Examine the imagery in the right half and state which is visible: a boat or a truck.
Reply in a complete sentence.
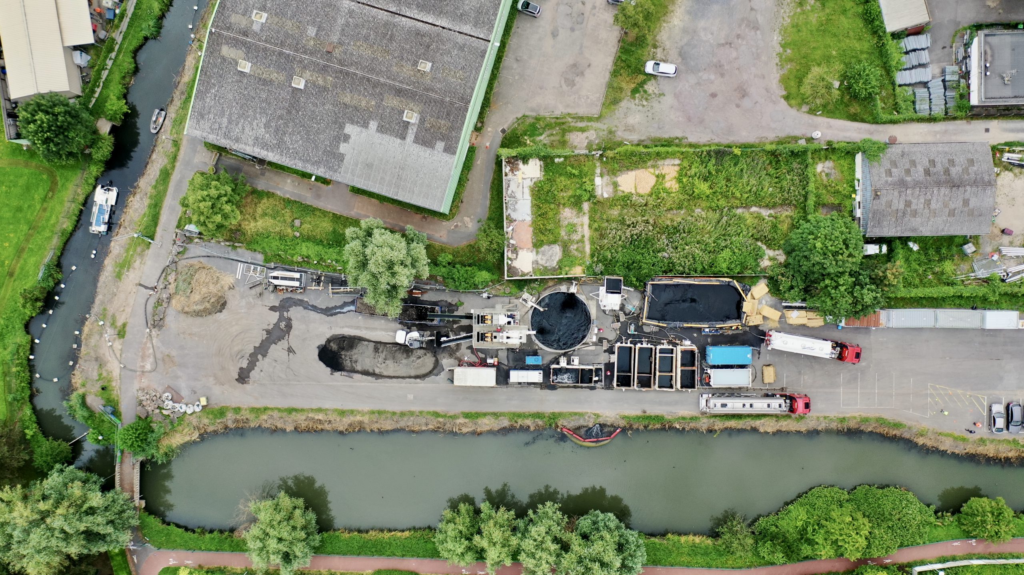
It is a truck that can be seen in the right half.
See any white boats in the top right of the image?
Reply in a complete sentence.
No, no white boat is visible in the top right of the image.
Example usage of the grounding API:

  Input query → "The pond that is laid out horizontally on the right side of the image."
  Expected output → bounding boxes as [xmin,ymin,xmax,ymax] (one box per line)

[641,277,750,328]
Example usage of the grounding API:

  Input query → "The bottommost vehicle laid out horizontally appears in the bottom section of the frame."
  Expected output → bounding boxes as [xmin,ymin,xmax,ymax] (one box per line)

[696,393,812,415]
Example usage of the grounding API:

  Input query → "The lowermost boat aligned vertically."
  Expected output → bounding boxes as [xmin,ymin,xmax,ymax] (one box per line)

[89,182,119,235]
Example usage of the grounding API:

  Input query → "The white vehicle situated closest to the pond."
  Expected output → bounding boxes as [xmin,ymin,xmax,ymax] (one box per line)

[760,329,863,364]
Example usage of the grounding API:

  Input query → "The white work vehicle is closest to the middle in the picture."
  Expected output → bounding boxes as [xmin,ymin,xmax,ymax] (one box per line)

[397,330,435,349]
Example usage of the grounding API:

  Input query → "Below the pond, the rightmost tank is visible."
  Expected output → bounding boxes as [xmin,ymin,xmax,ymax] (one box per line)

[704,367,752,387]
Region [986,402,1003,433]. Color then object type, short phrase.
white car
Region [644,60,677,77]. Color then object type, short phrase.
white car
